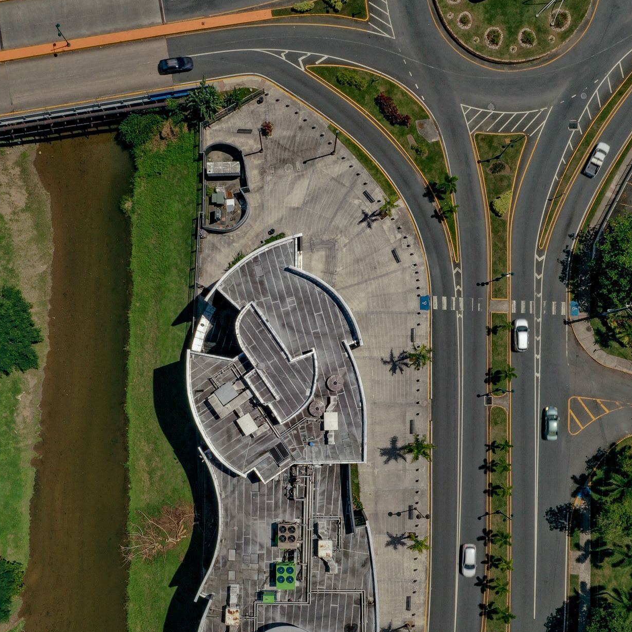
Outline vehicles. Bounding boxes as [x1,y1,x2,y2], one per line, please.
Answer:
[461,543,477,576]
[158,57,195,78]
[581,141,609,182]
[543,407,560,440]
[512,320,530,352]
